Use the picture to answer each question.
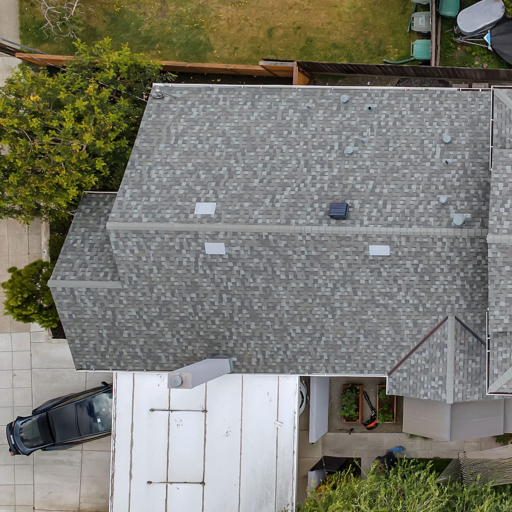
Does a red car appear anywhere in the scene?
No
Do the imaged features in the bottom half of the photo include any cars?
Yes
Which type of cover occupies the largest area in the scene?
buildings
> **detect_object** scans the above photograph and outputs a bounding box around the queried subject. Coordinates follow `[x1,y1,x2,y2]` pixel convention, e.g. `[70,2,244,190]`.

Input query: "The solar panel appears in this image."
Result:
[328,201,347,214]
